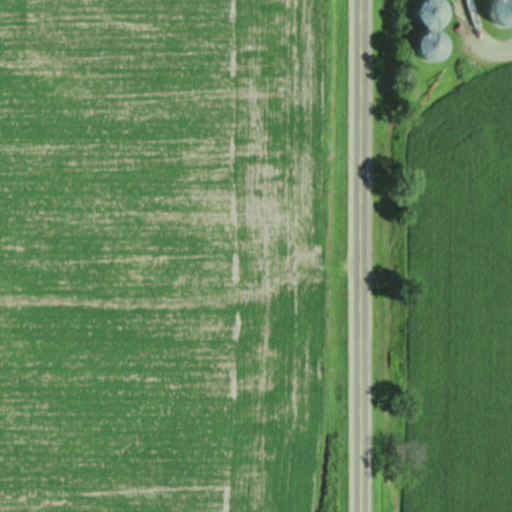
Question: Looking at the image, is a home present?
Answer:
No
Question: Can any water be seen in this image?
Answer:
No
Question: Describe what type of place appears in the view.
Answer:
farmland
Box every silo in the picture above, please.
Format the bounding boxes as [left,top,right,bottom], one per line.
[488,0,512,30]
[414,0,452,33]
[414,31,452,66]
